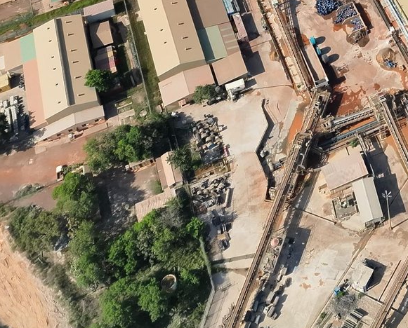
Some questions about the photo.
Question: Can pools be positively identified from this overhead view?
No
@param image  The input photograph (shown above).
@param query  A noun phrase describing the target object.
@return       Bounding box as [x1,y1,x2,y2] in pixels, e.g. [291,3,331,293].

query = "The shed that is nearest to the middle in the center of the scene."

[160,155,179,189]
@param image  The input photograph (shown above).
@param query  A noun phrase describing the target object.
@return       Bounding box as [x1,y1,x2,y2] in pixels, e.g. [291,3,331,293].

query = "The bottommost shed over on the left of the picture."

[134,186,181,218]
